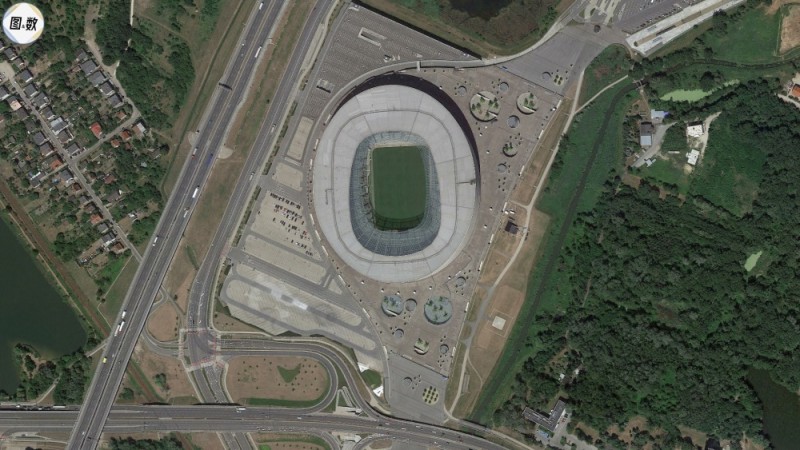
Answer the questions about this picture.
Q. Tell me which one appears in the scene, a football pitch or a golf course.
football pitch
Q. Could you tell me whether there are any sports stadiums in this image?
Yes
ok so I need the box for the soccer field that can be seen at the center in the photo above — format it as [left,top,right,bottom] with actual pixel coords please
[371,148,426,231]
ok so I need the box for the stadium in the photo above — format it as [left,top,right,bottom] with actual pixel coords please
[312,84,480,287]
